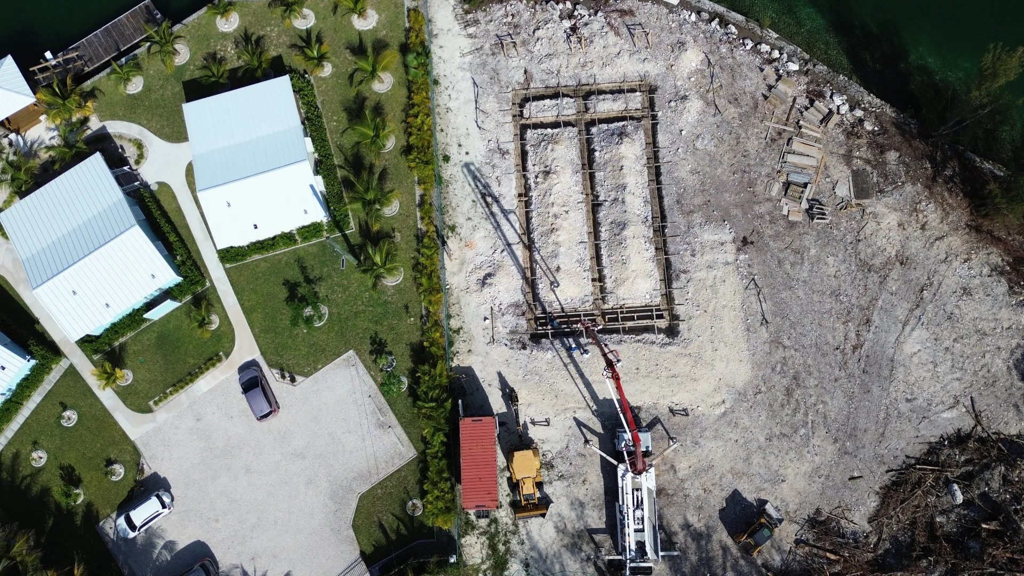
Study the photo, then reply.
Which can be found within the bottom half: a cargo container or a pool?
cargo container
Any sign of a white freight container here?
No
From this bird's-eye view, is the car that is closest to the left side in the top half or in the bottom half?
bottom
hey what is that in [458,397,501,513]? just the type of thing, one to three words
shipping container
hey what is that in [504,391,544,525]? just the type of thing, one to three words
work vehicle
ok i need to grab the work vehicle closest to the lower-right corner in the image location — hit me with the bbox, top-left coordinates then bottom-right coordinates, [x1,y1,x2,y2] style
[737,495,783,557]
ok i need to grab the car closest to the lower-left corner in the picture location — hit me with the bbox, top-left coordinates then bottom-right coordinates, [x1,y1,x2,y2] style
[112,487,179,540]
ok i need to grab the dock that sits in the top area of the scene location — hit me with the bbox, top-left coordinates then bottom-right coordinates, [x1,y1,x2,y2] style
[21,0,167,91]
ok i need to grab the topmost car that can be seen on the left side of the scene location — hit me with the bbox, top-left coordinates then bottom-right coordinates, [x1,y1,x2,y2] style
[237,360,282,427]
